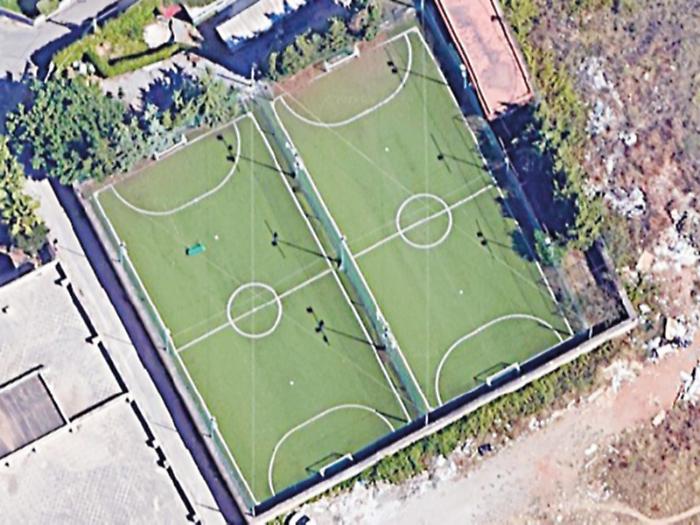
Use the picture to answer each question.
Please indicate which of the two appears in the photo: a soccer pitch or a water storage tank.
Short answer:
soccer pitch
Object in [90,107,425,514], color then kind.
green soccer field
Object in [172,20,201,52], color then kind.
white gazebo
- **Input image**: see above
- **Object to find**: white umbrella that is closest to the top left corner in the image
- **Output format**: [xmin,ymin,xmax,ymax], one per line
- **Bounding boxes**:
[144,21,172,48]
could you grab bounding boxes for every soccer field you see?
[90,107,425,514]
[253,24,577,426]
